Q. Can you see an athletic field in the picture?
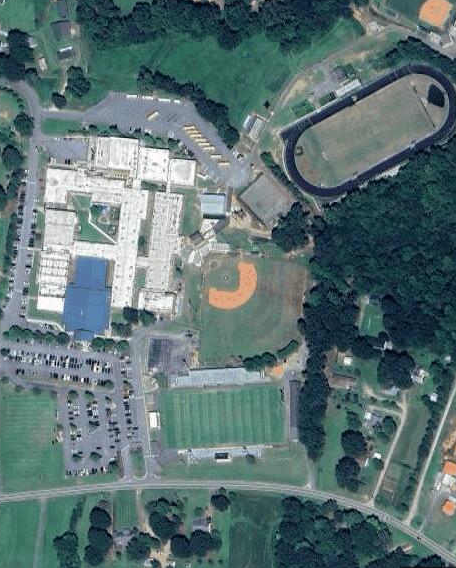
Yes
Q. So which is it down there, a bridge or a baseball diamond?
baseball diamond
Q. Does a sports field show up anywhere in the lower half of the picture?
Yes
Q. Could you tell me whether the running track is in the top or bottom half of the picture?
top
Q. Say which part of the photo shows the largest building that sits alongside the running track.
left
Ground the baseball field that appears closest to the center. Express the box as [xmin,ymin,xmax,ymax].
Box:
[200,258,309,362]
